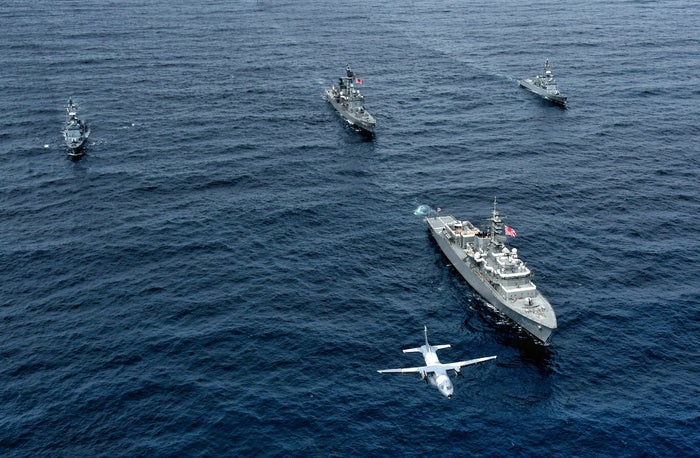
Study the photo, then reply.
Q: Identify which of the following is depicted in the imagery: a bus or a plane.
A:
plane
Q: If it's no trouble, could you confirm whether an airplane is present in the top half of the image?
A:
No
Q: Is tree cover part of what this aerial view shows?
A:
No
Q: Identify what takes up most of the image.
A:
water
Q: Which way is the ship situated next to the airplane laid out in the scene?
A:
diagonally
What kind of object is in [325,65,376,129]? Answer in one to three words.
ship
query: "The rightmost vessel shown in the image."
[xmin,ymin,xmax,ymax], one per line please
[518,62,568,105]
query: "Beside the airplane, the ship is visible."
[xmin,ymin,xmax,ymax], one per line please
[425,193,557,343]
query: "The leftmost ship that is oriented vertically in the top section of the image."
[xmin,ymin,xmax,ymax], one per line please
[64,96,83,154]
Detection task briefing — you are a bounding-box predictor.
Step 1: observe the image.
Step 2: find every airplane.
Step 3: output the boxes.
[377,324,497,396]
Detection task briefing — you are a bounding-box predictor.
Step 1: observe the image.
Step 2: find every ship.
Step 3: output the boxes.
[425,193,557,343]
[64,96,83,154]
[518,62,568,105]
[325,65,376,129]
